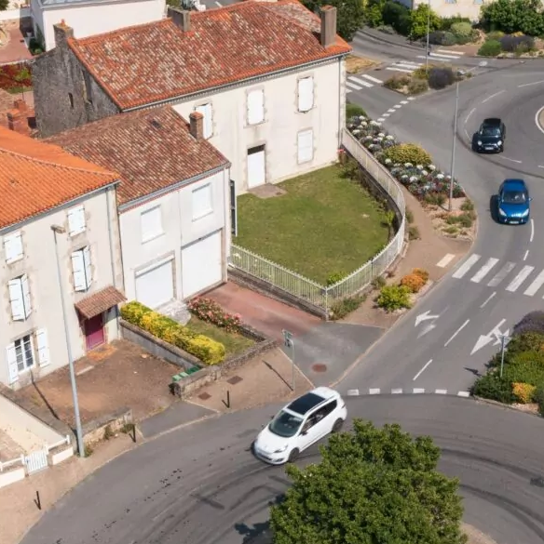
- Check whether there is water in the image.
No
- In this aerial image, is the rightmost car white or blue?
blue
